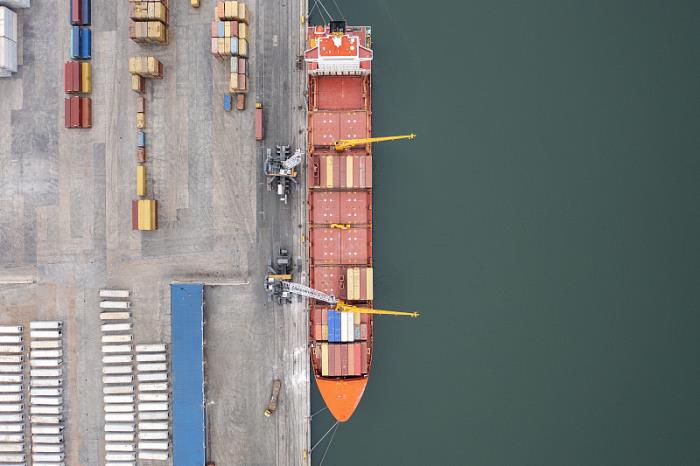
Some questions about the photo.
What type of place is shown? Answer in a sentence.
It's a port.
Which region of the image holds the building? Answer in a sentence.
You can find the building in the bottom left area of the picture.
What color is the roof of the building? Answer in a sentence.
The roof of the building is blue.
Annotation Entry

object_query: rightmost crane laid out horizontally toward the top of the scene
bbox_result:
[335,134,416,153]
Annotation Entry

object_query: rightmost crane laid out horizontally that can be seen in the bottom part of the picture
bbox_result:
[334,297,420,316]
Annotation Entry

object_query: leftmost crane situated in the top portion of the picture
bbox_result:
[262,147,308,195]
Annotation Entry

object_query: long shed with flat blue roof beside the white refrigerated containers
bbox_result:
[170,283,206,466]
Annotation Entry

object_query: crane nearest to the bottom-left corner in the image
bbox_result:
[263,251,343,306]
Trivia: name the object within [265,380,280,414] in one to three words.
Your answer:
vehicle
